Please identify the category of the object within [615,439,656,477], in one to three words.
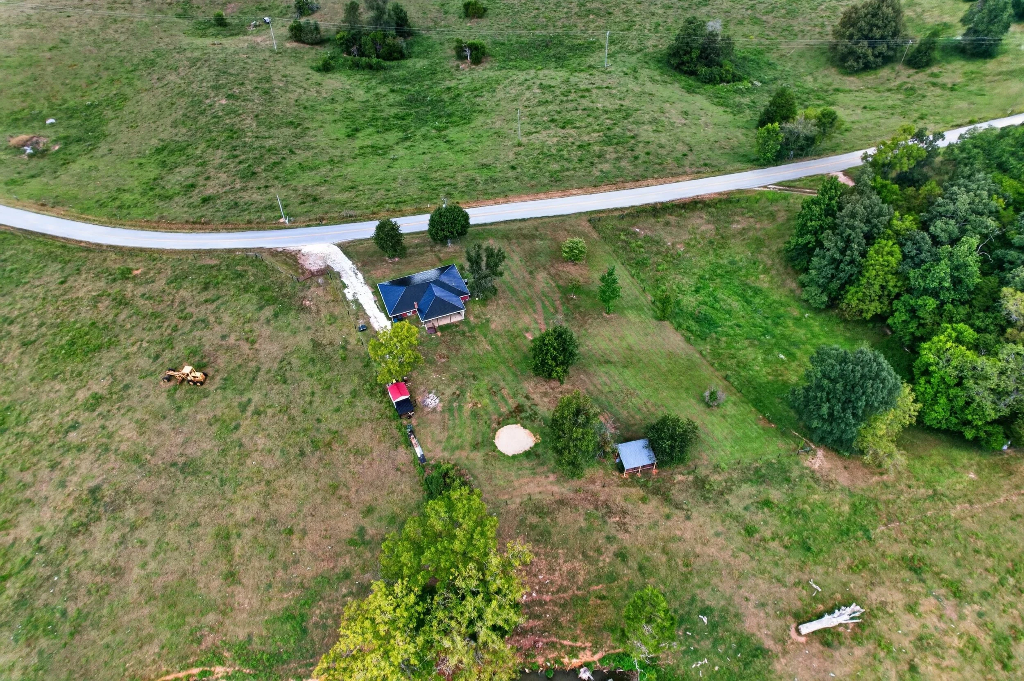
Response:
shed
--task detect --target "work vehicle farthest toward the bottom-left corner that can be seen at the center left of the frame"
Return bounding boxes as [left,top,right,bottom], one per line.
[161,364,206,384]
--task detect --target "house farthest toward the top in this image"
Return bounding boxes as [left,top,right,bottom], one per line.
[375,265,474,338]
